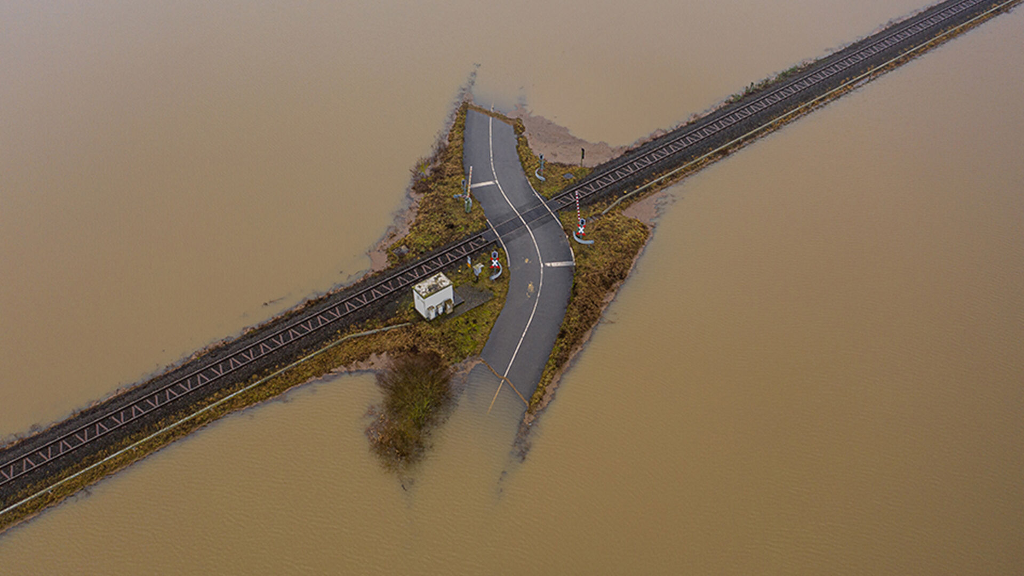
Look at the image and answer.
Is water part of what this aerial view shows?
Yes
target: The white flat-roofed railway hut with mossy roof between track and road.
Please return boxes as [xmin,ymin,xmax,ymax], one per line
[413,270,452,313]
